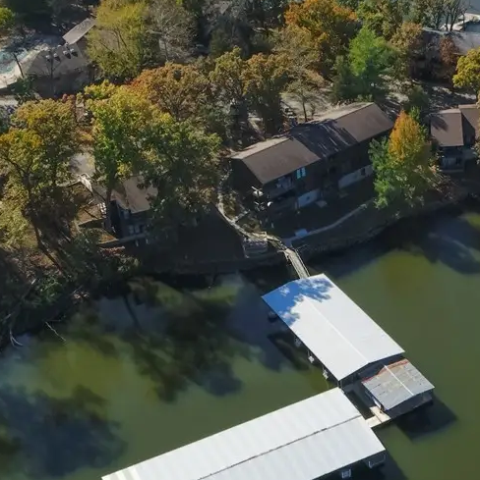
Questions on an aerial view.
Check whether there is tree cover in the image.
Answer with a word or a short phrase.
Yes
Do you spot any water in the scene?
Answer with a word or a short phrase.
Yes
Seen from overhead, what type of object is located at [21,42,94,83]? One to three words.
building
